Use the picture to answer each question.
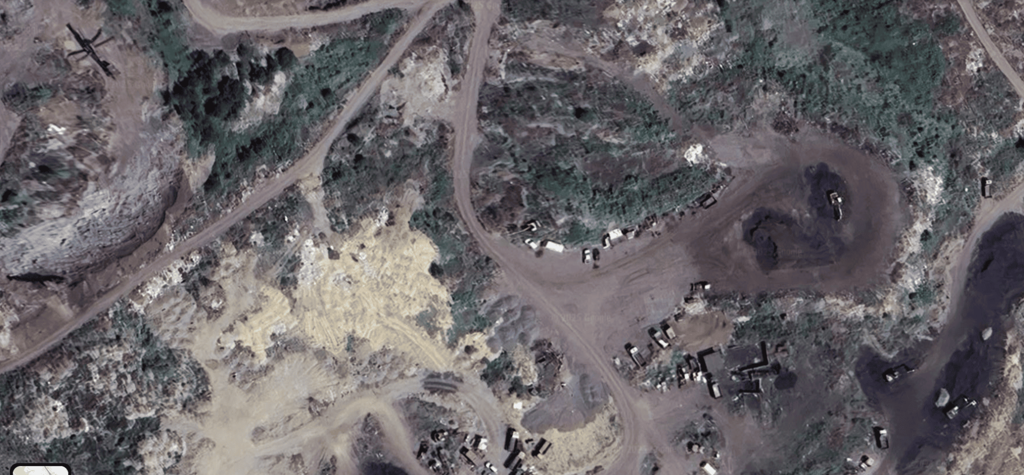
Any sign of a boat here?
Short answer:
No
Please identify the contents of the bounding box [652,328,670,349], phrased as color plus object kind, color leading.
white vehicle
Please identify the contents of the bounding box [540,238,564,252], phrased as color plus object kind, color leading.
white vehicle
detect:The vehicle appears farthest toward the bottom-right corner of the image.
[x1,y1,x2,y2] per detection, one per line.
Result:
[945,401,974,420]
